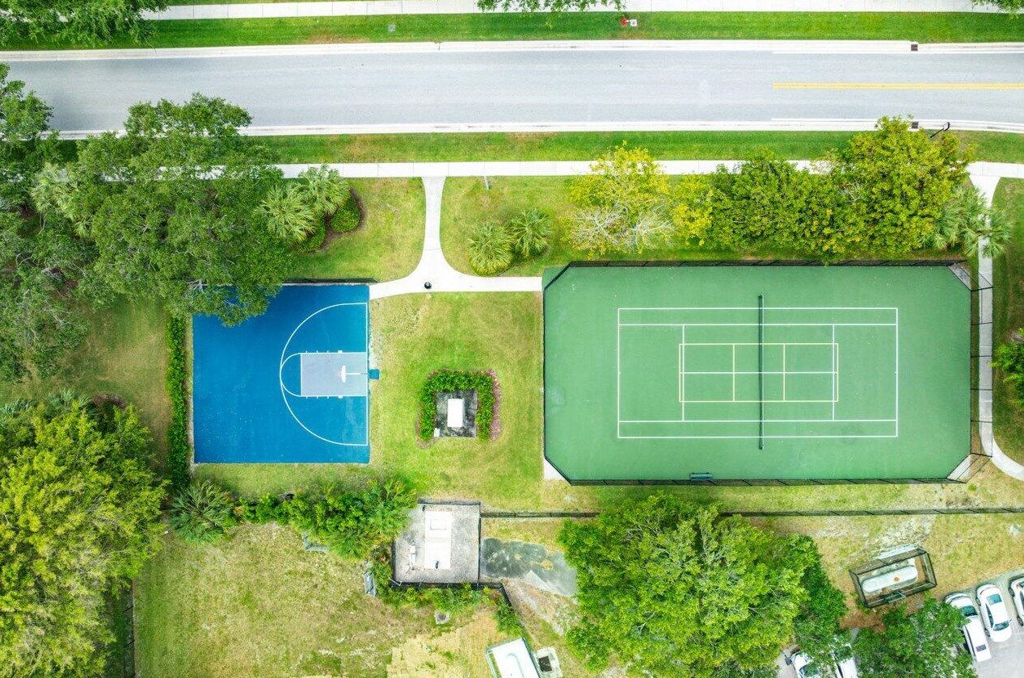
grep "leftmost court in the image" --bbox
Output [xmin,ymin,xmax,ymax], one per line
[193,285,369,463]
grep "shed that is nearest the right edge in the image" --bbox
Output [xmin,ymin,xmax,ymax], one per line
[487,638,539,678]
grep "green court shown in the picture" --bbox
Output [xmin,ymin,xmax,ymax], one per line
[543,265,971,481]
